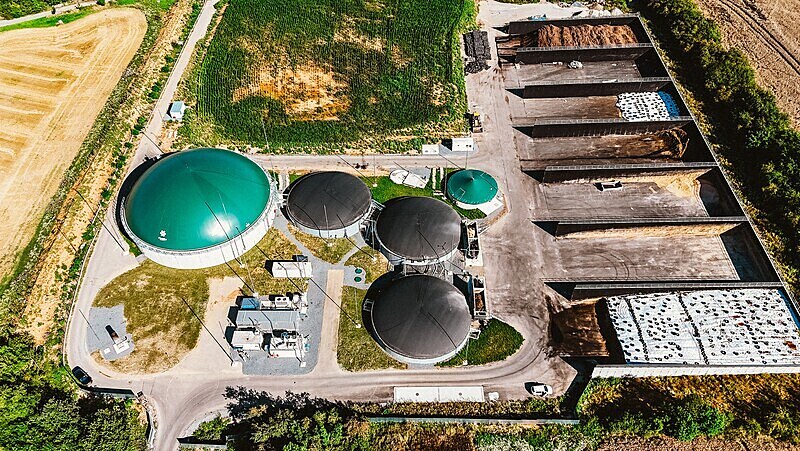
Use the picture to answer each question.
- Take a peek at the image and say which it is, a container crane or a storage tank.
storage tank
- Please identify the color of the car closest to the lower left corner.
black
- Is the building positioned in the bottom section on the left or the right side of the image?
left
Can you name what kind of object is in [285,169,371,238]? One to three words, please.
storage tank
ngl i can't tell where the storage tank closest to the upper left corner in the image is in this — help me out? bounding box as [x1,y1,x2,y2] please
[120,143,277,268]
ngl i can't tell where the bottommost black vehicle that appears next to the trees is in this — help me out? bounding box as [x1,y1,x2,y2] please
[69,367,89,387]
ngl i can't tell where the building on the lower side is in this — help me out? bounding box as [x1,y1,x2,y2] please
[232,309,300,334]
